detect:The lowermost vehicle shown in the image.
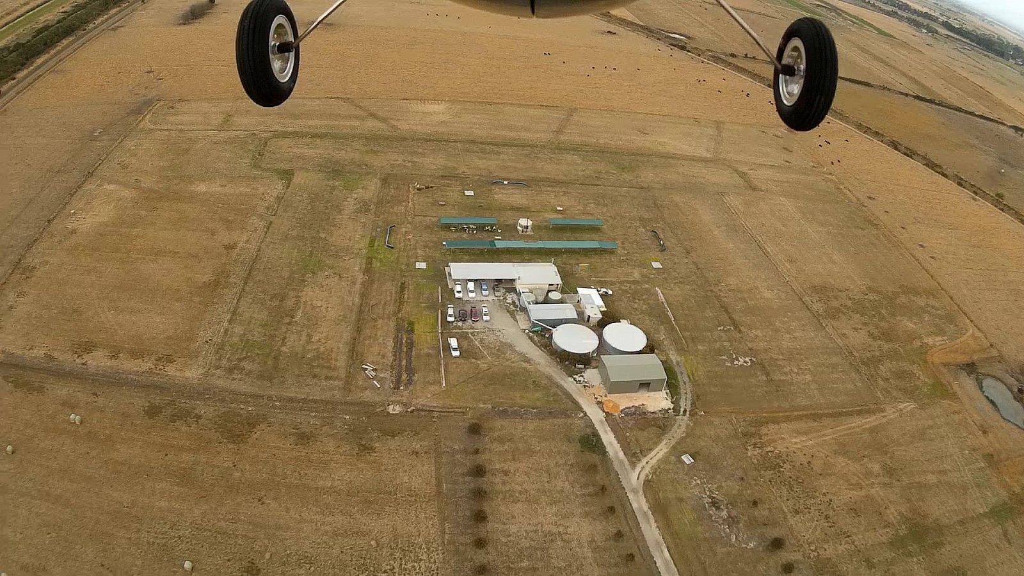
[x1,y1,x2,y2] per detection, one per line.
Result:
[448,337,461,359]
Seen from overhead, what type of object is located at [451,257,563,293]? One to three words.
building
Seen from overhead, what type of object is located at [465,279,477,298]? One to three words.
vehicle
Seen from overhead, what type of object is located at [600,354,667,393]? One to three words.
shed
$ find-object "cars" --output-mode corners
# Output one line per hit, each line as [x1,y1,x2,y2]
[479,281,490,296]
[598,287,611,297]
[454,283,463,299]
[480,305,491,322]
[458,309,468,323]
[465,279,477,298]
[448,337,461,359]
[445,304,456,323]
[470,305,480,323]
